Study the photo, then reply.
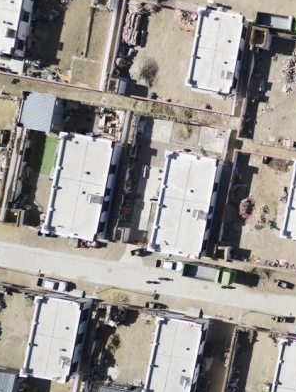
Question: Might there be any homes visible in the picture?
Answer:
Yes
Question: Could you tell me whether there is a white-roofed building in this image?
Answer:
Yes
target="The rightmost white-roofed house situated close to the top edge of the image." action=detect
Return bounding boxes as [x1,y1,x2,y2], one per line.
[184,9,253,96]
